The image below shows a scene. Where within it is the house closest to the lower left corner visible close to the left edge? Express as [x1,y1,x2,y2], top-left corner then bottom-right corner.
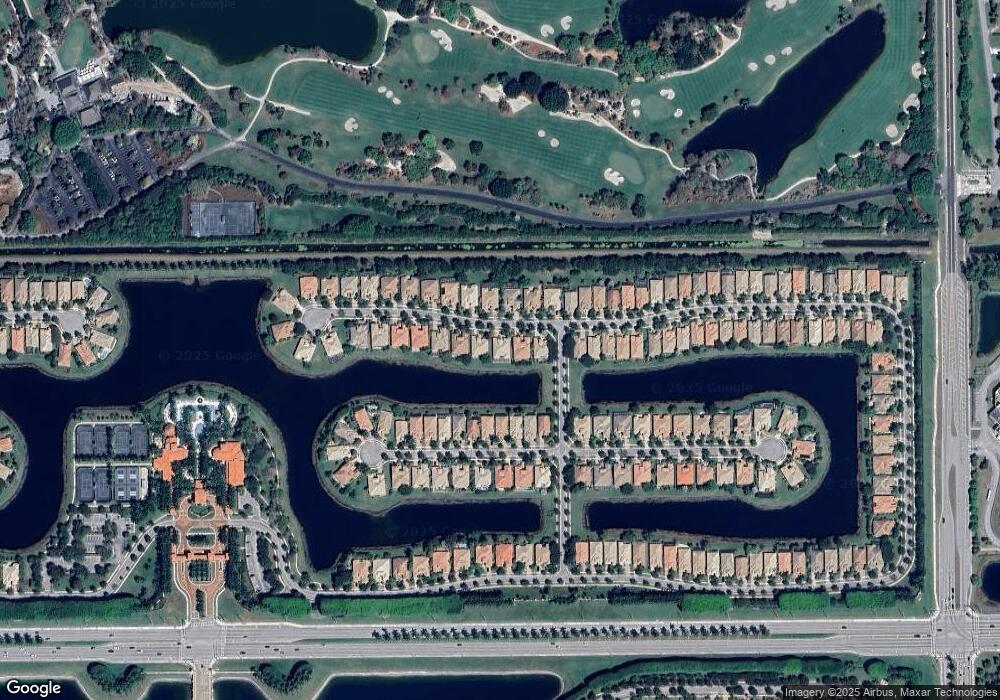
[2,563,19,586]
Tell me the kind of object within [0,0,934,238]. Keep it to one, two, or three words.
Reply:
golf course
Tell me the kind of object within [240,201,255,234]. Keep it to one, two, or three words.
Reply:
tennis court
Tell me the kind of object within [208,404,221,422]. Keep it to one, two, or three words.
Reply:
swimming pool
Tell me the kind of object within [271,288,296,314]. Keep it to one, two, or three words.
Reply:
house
